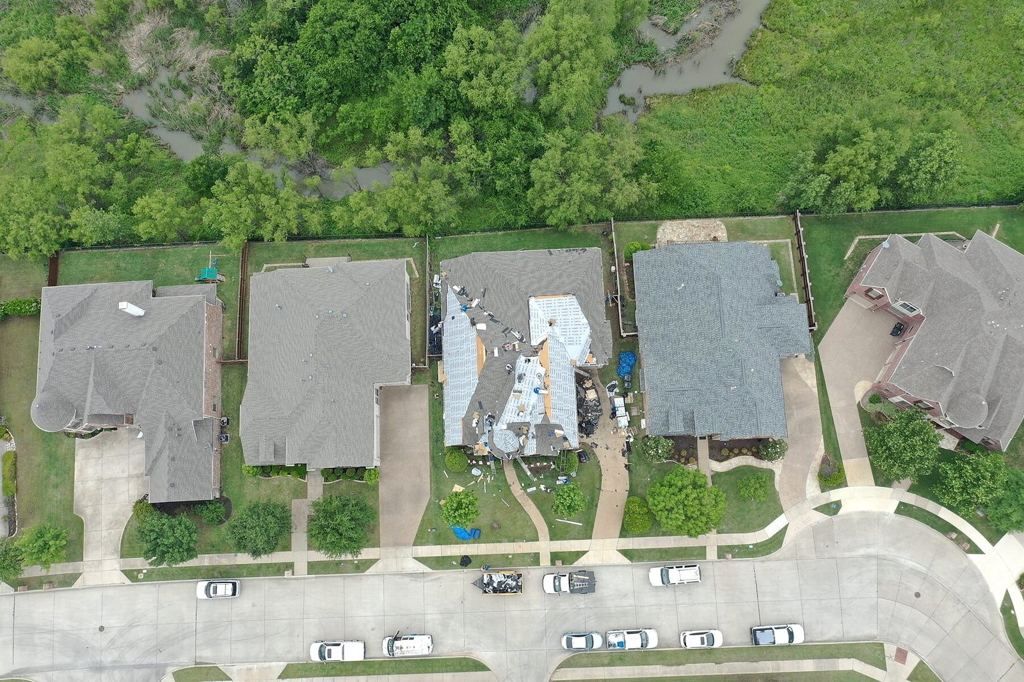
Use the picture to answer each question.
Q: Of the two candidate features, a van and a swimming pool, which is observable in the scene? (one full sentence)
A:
Of the two, only a van appears.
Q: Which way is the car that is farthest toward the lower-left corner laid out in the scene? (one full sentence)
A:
From this overhead view, the car that is farthest toward the lower-left corner appears to run from side to side.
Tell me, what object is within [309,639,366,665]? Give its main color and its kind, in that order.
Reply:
white truck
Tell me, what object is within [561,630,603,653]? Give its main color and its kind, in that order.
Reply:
white car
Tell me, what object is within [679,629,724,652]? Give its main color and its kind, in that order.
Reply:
white car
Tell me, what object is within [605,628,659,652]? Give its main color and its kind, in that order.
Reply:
white truck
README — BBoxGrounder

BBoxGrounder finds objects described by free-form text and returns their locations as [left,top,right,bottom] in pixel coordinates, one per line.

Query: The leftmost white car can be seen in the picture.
[196,579,242,602]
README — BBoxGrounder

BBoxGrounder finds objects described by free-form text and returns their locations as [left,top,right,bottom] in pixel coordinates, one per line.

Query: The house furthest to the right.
[845,228,1024,453]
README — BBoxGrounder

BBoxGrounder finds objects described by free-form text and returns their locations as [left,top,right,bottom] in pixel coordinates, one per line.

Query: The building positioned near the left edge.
[29,280,224,504]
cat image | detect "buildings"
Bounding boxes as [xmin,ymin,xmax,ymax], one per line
[29,280,224,504]
[629,241,811,441]
[440,247,613,462]
[239,259,414,471]
[845,228,1024,453]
